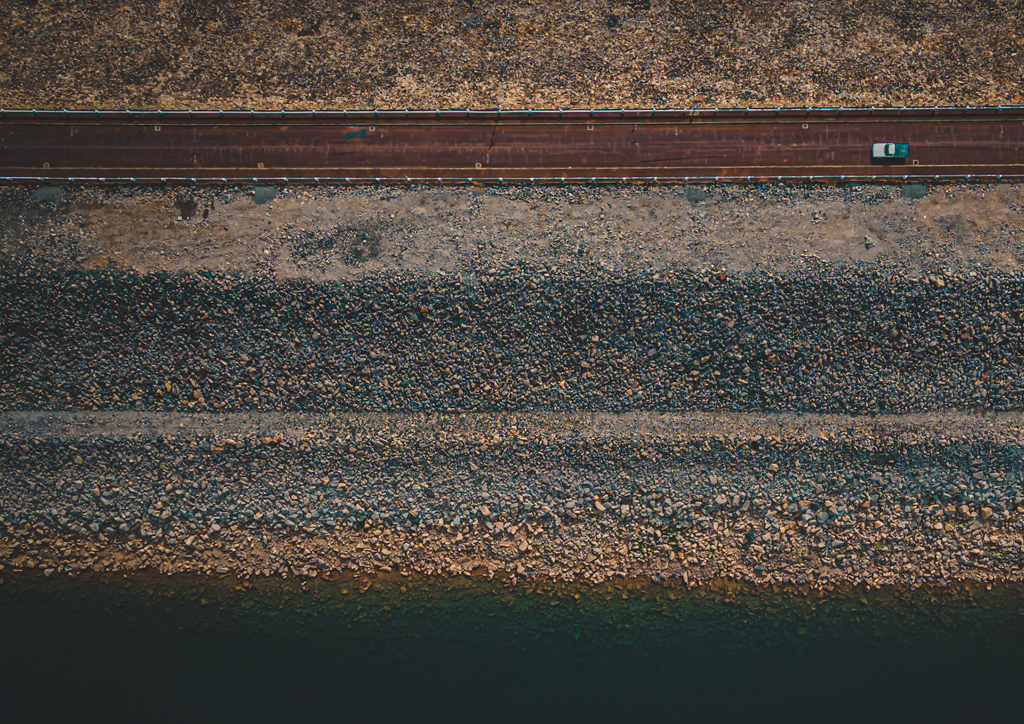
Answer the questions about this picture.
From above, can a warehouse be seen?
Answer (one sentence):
No, I can see no warehouse in this picture.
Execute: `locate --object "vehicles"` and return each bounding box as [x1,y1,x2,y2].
[873,142,909,159]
